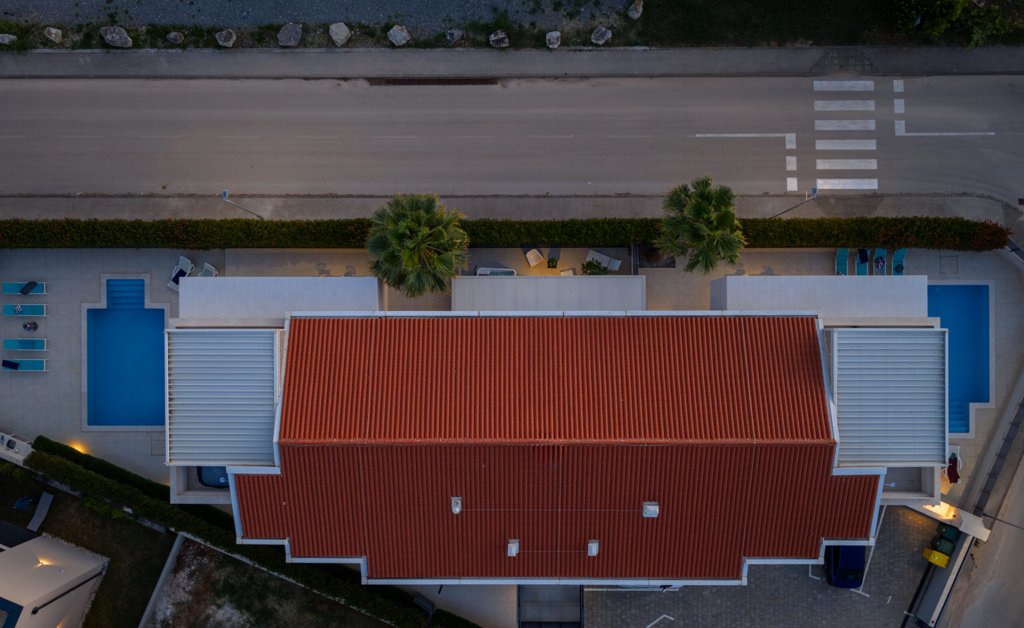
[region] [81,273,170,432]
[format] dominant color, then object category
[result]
blue swimming pool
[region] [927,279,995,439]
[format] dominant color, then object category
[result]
blue swimming pool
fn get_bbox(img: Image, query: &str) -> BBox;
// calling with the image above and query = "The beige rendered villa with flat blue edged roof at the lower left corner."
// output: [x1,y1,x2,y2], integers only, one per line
[0,523,102,628]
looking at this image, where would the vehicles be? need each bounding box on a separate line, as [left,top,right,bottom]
[821,538,864,589]
[603,585,683,595]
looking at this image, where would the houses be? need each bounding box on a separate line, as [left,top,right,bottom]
[0,523,102,628]
[225,311,889,586]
